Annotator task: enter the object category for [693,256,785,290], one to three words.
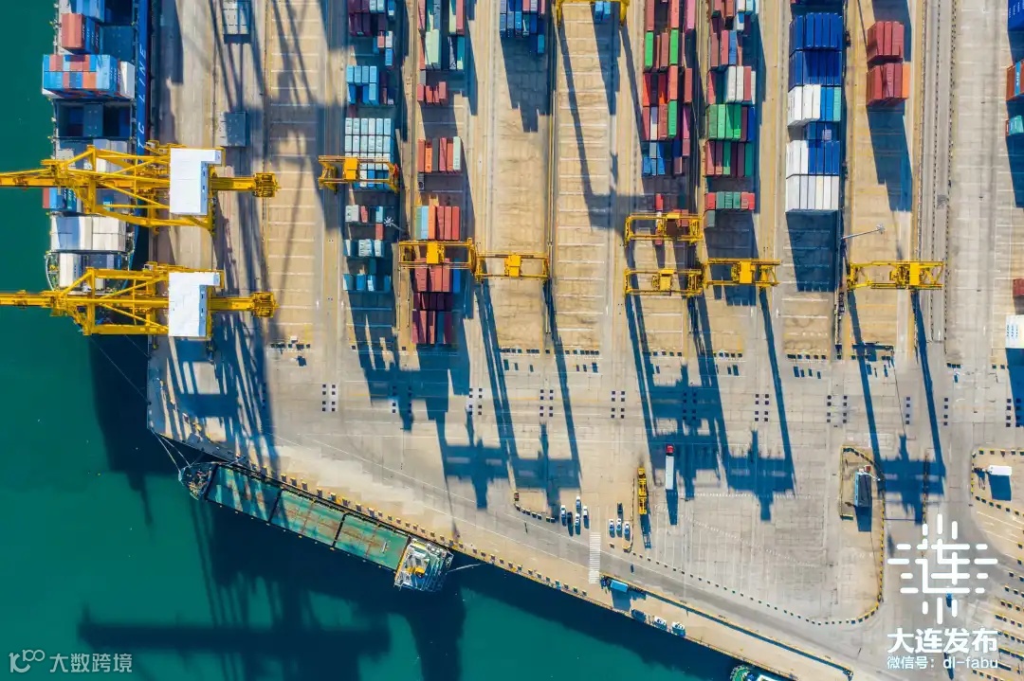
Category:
container crane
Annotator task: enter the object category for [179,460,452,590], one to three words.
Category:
ship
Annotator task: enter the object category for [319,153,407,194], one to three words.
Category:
container crane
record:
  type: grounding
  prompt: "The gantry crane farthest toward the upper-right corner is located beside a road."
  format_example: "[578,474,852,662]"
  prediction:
[848,258,947,293]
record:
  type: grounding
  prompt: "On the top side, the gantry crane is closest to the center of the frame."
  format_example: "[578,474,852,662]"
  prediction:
[474,252,552,283]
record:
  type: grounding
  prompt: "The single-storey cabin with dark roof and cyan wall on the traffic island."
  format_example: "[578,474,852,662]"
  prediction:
[857,471,876,507]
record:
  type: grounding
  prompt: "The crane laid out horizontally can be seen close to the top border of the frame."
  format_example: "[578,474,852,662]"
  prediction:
[552,0,629,27]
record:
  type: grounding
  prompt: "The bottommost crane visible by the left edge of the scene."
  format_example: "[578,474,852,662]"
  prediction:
[0,264,284,342]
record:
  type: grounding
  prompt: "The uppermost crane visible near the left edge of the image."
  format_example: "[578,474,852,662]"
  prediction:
[0,141,284,236]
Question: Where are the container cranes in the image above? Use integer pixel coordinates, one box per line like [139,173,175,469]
[693,256,785,290]
[474,252,552,283]
[552,0,629,27]
[621,266,707,298]
[0,141,284,236]
[398,238,479,272]
[0,264,284,342]
[621,212,707,248]
[319,153,407,194]
[848,258,947,293]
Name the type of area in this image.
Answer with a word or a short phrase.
port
